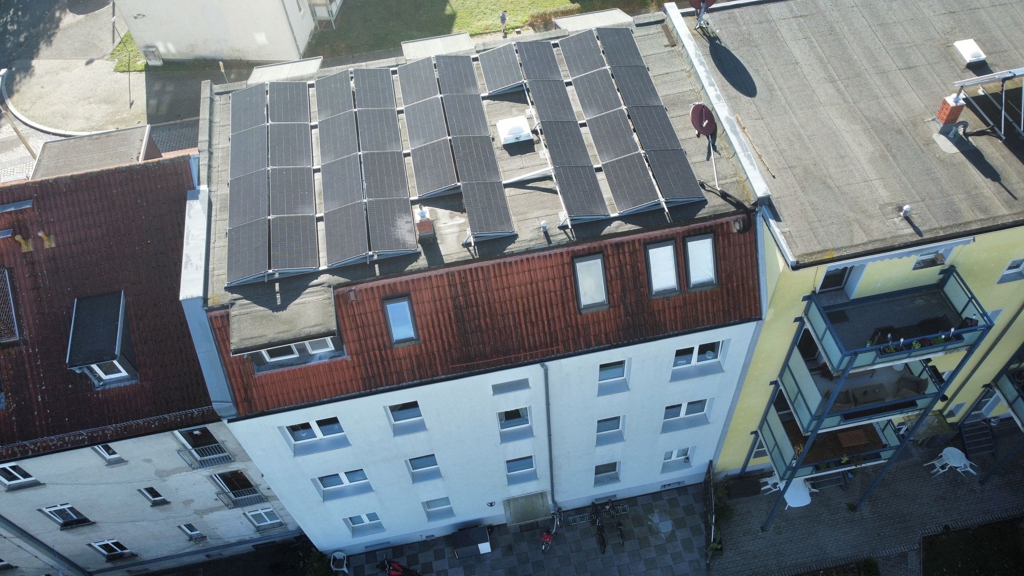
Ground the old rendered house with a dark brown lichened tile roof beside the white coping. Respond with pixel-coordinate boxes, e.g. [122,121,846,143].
[0,121,306,576]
